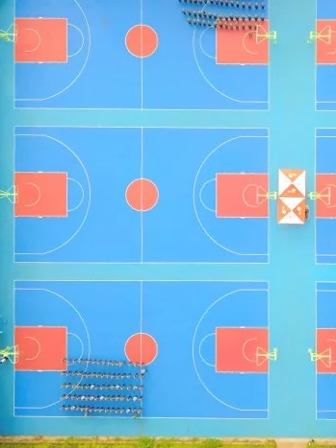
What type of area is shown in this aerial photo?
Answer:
sports ground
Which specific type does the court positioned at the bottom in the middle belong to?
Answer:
basketball court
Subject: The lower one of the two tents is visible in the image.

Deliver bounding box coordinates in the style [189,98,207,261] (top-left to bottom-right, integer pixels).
[277,198,306,225]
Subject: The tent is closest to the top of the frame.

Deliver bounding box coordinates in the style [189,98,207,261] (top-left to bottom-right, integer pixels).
[278,169,306,198]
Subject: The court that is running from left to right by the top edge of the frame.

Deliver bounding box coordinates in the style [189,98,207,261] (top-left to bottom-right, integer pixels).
[14,0,269,110]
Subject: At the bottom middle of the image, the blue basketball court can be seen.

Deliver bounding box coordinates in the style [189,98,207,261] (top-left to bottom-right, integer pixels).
[14,281,269,420]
